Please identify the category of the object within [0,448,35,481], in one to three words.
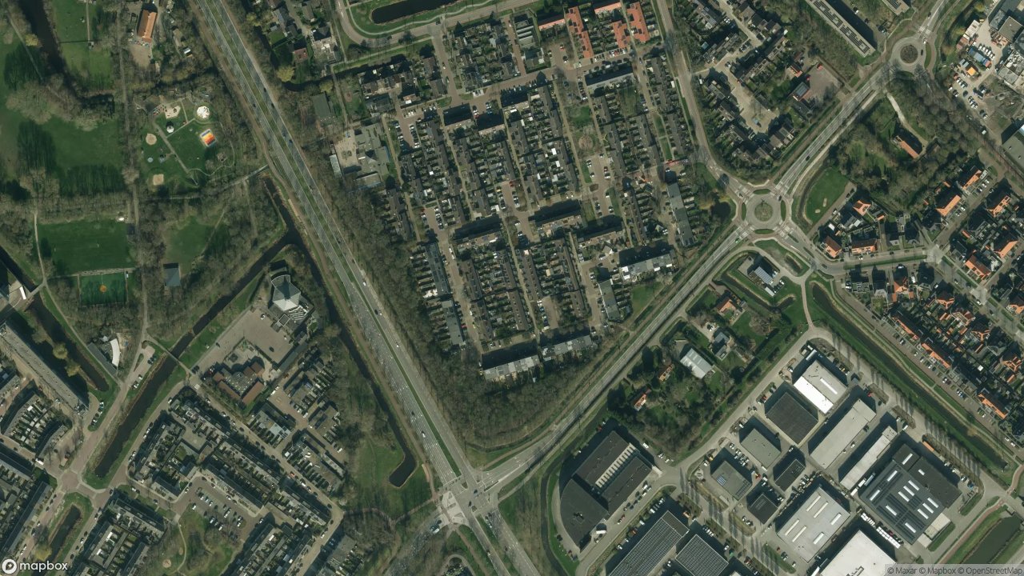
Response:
house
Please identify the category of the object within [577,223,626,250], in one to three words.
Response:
house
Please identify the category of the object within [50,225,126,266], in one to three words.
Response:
soccer field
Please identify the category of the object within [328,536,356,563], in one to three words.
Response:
building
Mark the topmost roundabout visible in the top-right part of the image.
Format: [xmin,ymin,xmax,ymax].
[890,35,931,76]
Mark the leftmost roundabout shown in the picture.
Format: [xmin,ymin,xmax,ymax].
[737,185,790,238]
